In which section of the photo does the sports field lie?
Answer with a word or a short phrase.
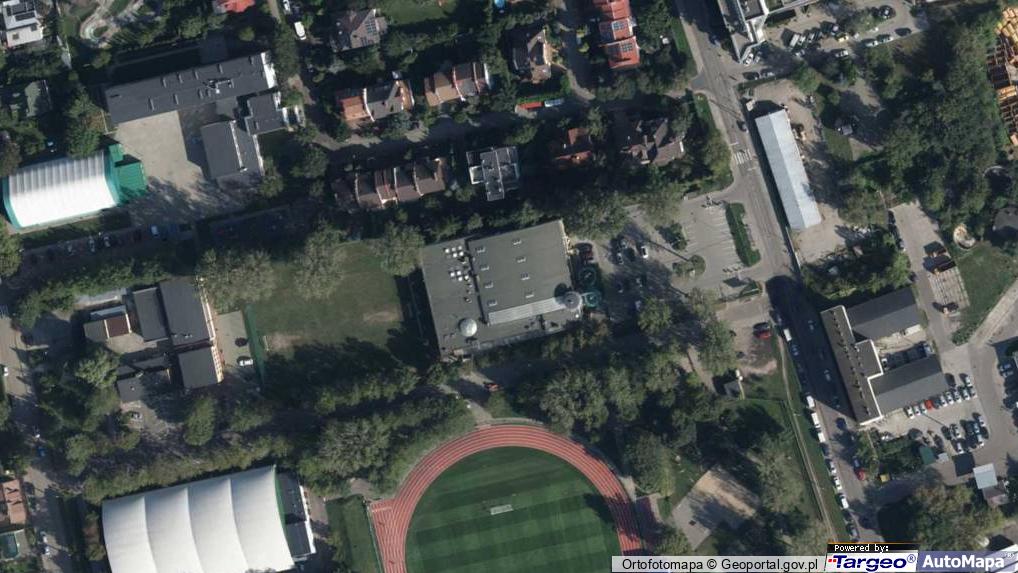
bottom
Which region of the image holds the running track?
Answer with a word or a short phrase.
bottom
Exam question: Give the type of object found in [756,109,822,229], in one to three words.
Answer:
building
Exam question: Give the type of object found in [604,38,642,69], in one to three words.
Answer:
house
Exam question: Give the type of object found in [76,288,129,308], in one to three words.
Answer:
shed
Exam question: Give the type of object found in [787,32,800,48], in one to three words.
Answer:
vehicle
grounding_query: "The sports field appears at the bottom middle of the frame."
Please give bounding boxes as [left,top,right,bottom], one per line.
[408,447,620,573]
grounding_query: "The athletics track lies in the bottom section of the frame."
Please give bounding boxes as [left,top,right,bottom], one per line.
[377,421,661,573]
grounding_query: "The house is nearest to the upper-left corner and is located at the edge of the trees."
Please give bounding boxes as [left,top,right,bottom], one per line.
[2,0,46,47]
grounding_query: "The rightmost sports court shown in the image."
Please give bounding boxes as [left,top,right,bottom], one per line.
[673,471,754,550]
